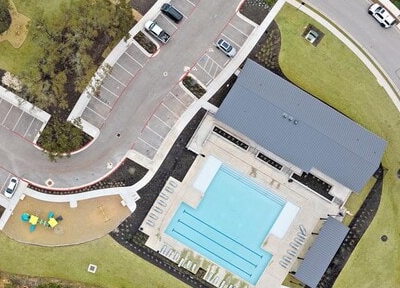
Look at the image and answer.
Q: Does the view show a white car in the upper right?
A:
Yes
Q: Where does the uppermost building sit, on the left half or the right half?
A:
right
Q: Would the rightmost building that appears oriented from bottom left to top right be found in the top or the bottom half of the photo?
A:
bottom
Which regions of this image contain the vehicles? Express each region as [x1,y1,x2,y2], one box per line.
[368,6,394,27]
[215,39,236,57]
[143,21,170,44]
[160,3,183,23]
[4,176,20,199]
